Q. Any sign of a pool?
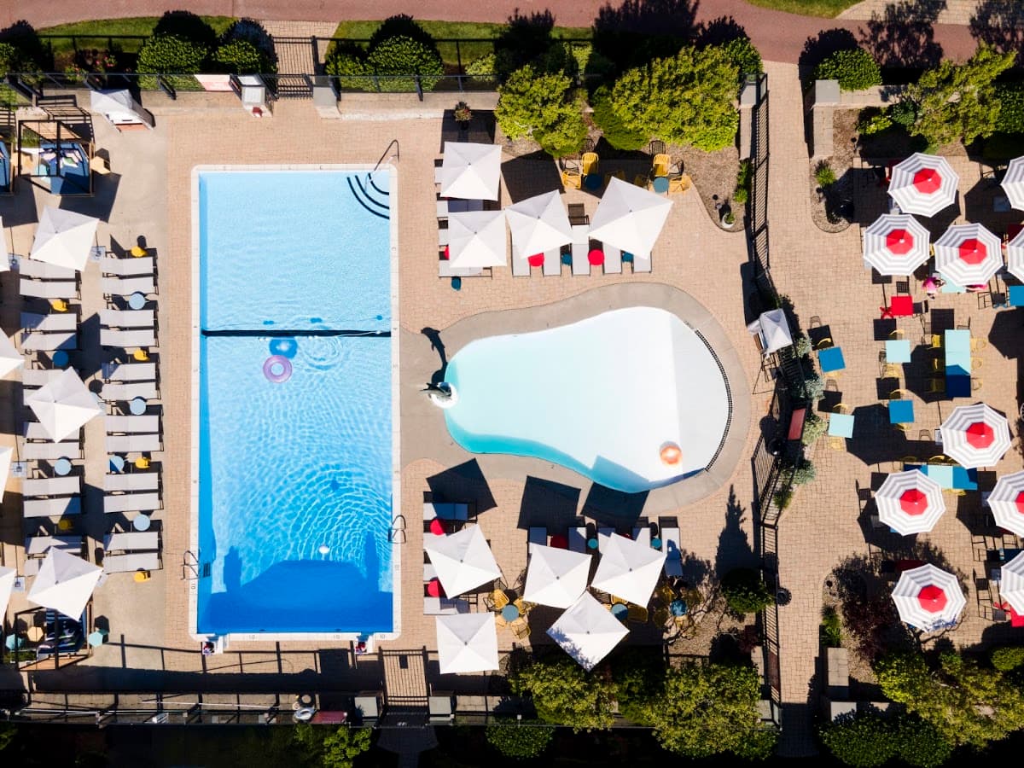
Yes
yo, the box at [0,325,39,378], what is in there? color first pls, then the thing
white umbrella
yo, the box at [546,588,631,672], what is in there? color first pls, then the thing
white umbrella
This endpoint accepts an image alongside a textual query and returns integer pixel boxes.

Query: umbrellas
[25,545,108,623]
[983,546,1024,615]
[585,175,673,262]
[988,157,1024,216]
[888,561,965,635]
[546,588,631,672]
[858,213,929,279]
[993,228,1024,288]
[435,611,499,677]
[0,325,39,378]
[883,152,958,222]
[974,467,1024,540]
[449,210,509,269]
[924,221,1004,289]
[439,140,501,201]
[517,540,588,611]
[503,188,576,261]
[28,204,110,271]
[870,466,944,538]
[23,365,111,444]
[423,521,502,602]
[930,401,1010,471]
[0,565,33,626]
[0,443,31,498]
[591,531,669,610]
